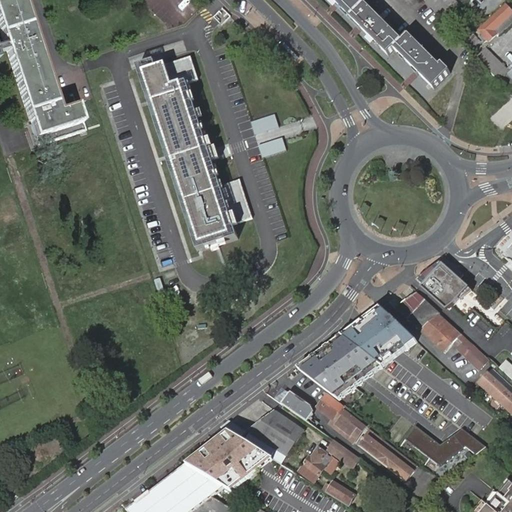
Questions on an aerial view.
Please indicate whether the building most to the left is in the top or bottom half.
top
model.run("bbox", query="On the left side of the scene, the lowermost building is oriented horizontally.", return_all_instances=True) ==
[120,461,234,512]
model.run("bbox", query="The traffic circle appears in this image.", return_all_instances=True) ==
[330,125,468,266]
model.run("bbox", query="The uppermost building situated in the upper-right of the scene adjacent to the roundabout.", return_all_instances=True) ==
[332,0,450,93]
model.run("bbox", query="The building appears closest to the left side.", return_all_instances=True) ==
[0,0,92,148]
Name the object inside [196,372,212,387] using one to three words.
vehicle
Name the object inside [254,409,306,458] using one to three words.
barn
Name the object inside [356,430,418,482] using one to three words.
house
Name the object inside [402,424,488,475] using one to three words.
building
